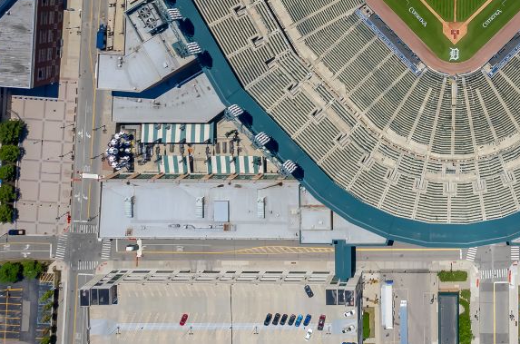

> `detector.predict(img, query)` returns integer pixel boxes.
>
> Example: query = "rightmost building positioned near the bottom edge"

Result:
[439,285,459,344]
